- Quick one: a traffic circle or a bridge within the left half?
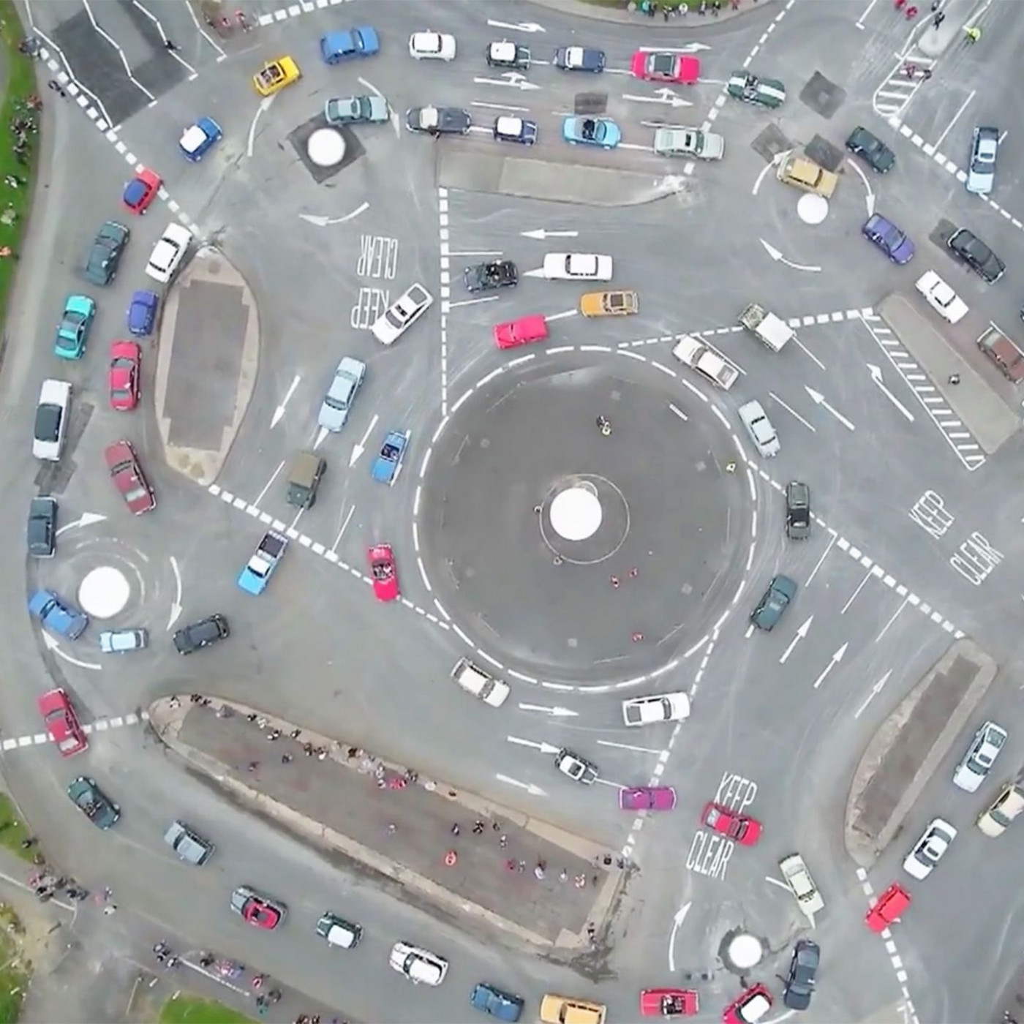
traffic circle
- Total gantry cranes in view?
0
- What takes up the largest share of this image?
paved ground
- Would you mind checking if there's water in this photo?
No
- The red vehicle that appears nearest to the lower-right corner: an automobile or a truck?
automobile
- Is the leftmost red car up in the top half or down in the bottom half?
bottom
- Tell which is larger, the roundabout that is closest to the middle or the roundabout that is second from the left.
the roundabout that is closest to the middle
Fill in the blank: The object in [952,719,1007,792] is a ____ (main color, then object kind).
white car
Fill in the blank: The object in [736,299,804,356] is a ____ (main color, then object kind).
white vehicle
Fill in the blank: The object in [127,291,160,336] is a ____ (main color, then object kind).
blue car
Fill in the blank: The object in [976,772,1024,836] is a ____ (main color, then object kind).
white car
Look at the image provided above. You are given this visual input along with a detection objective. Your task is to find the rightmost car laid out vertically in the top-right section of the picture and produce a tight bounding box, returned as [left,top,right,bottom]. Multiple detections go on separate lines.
[964,126,998,193]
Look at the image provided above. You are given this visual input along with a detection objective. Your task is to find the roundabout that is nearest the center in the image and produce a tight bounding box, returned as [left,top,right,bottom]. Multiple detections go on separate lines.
[414,345,757,690]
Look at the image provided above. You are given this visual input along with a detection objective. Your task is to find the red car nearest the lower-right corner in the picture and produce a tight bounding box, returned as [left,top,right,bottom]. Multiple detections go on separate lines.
[863,881,913,933]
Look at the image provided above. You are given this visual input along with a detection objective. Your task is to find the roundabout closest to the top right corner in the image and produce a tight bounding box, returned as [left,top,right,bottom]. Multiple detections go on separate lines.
[796,193,827,224]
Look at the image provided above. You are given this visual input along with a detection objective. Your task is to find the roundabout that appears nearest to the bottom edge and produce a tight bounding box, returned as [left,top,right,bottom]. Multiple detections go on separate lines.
[715,928,767,978]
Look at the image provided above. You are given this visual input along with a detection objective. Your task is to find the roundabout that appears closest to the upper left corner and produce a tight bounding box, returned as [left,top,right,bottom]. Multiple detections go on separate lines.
[287,111,366,183]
